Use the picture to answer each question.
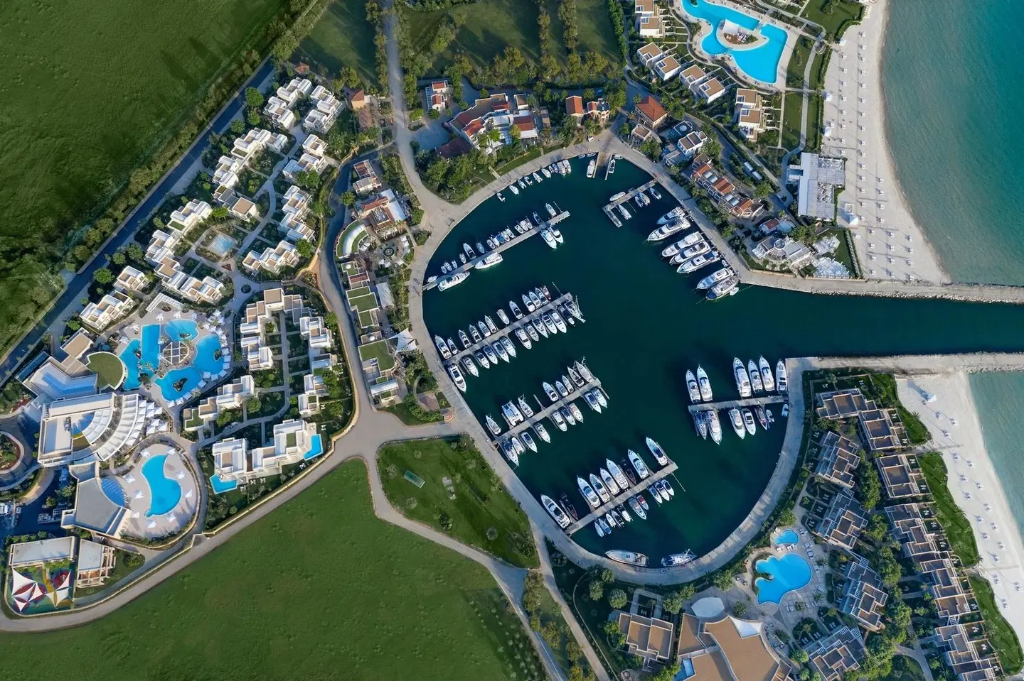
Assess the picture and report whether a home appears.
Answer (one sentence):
Yes, there is a home in the image.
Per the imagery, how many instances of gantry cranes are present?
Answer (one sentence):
The photo contains no gantry cranes.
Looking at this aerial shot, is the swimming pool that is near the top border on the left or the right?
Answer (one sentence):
The swimming pool that is near the top border is on the right side of the image.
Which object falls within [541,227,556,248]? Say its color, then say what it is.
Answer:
white boat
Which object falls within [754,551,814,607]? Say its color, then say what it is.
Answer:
blue swimming pool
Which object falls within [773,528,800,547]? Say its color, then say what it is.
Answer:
blue swimming pool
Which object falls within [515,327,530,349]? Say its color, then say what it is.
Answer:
white boat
